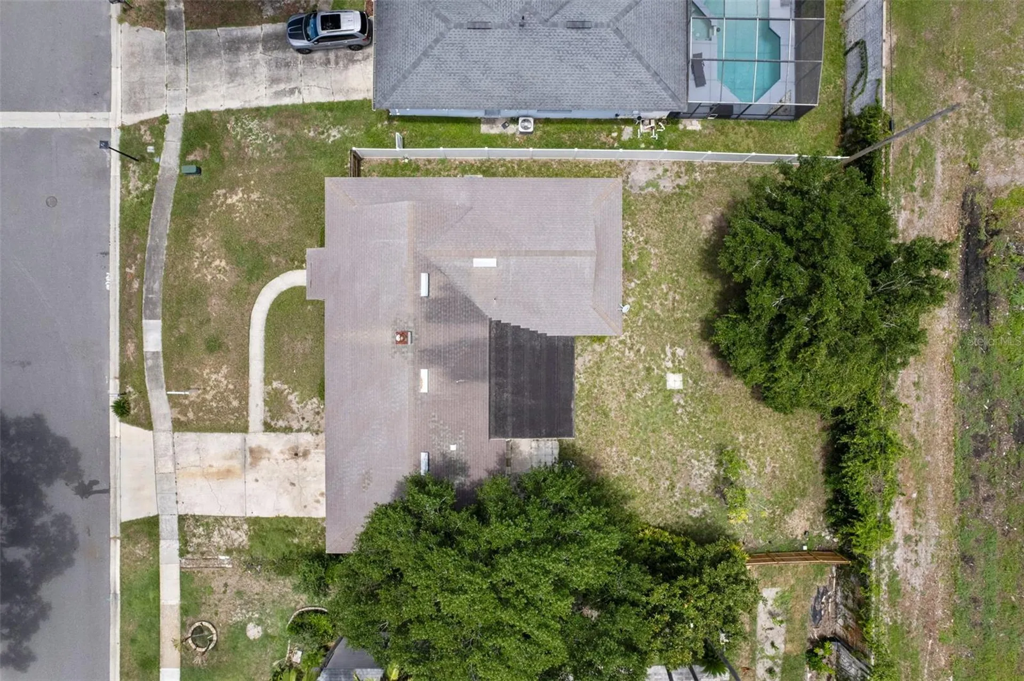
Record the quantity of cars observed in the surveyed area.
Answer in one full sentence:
My tally gives 1 car in this photo.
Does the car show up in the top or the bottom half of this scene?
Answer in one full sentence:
The top half of the photo is where the car is.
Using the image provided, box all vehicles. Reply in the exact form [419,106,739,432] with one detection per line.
[283,6,371,55]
